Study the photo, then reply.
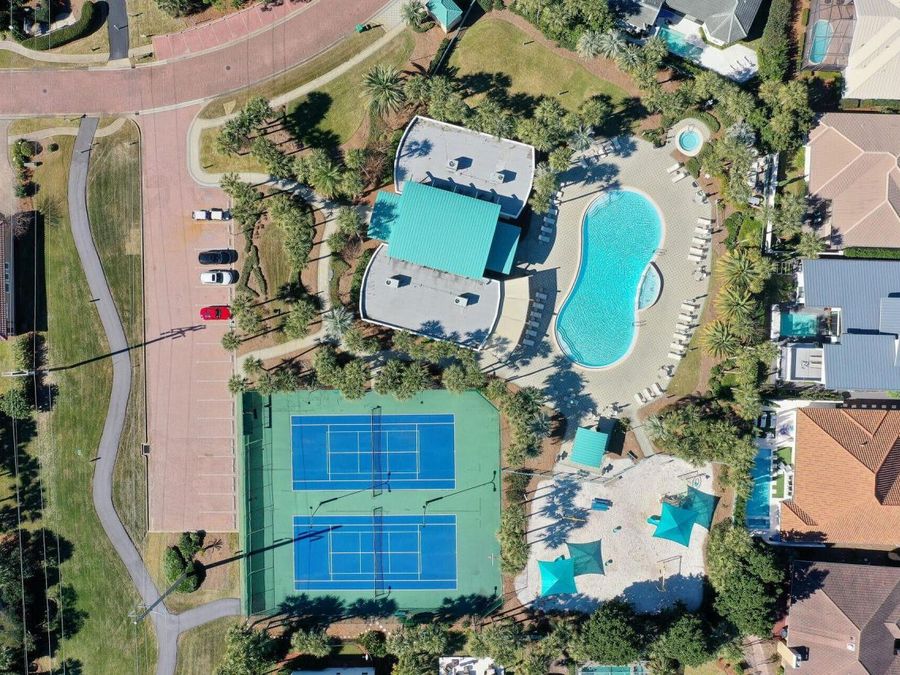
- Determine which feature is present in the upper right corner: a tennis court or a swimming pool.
swimming pool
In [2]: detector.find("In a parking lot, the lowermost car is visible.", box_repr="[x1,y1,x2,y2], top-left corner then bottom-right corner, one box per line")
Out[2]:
[198,305,229,321]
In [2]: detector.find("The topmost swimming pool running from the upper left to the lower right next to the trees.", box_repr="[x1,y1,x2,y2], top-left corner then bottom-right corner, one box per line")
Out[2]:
[657,25,707,62]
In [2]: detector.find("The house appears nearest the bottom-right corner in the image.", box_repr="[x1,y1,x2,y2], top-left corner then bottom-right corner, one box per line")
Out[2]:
[774,560,900,675]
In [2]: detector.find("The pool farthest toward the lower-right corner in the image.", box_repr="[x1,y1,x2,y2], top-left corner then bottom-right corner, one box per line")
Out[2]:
[744,447,773,531]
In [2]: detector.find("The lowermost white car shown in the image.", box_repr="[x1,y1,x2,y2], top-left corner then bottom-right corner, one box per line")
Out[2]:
[197,269,232,285]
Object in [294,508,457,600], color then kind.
blue tennis court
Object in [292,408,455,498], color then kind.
blue tennis court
